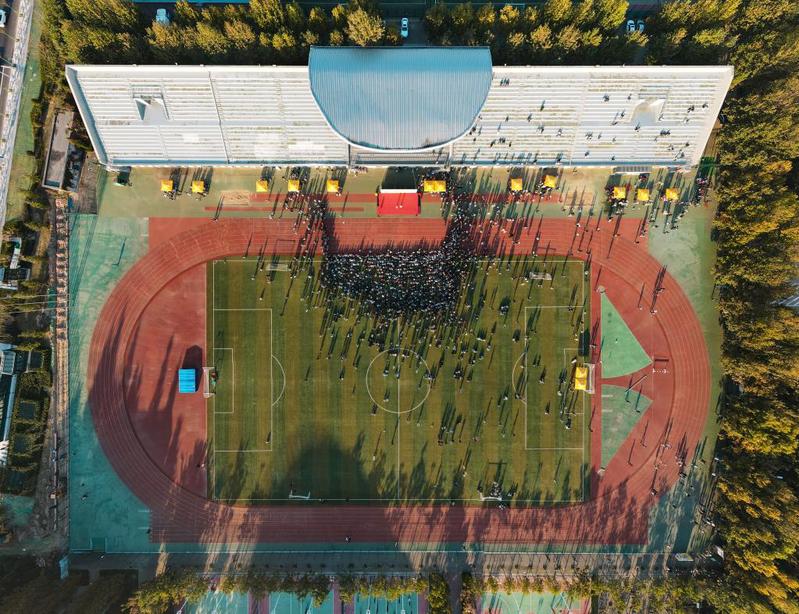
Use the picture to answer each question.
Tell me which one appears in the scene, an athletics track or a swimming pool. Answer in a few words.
athletics track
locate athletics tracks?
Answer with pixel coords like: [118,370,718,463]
[87,217,712,544]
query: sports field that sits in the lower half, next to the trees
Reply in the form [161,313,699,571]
[206,252,591,509]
